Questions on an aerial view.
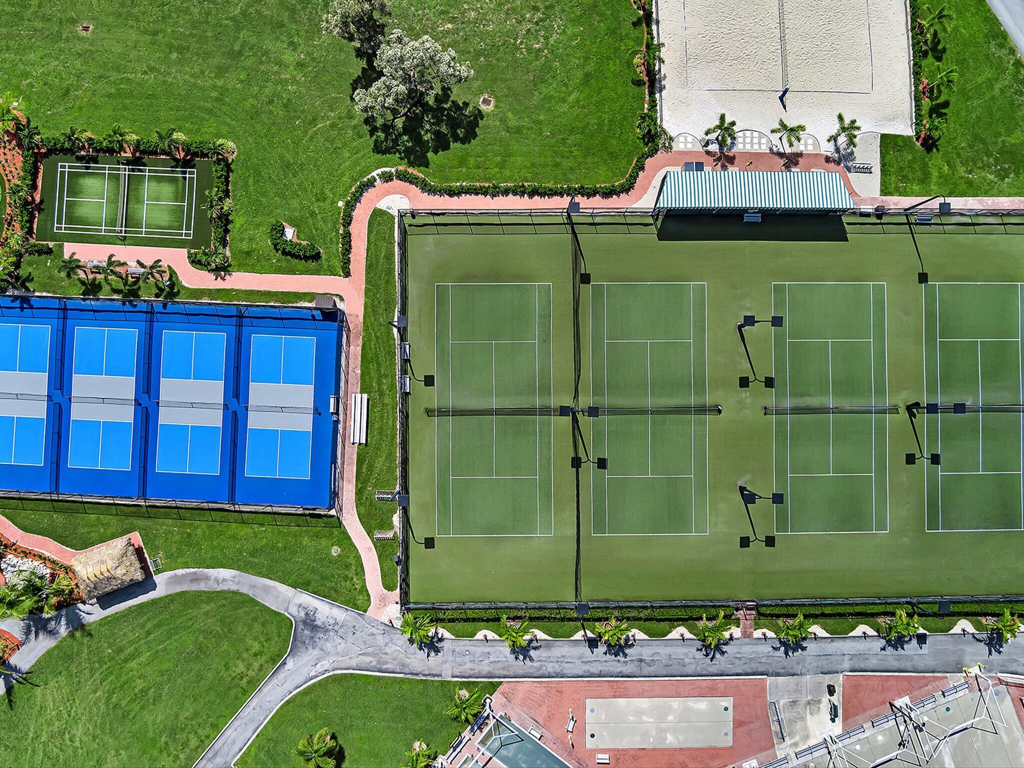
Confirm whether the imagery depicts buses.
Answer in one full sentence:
No, no bus can be seen from above.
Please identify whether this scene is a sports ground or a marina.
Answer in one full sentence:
What you see here is a sports ground.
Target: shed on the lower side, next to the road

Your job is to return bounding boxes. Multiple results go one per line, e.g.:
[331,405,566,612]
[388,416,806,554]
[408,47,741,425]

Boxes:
[71,533,149,604]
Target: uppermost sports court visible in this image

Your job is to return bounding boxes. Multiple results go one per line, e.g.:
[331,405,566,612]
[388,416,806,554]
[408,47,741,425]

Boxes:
[660,0,915,154]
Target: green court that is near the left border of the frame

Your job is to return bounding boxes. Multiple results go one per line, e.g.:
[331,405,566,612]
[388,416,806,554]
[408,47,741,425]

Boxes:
[37,153,212,250]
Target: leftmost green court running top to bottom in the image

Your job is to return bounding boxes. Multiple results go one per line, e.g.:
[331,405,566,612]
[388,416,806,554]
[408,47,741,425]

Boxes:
[401,214,577,603]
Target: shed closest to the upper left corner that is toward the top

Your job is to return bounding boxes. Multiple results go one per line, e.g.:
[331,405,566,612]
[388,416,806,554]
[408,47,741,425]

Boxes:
[311,295,336,310]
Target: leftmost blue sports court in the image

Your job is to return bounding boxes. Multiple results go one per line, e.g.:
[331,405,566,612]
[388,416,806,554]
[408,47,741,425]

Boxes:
[0,298,63,491]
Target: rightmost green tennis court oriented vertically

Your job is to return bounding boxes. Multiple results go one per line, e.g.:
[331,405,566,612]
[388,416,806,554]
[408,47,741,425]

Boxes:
[903,214,1024,598]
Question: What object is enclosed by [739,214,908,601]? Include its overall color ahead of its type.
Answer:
green tennis court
